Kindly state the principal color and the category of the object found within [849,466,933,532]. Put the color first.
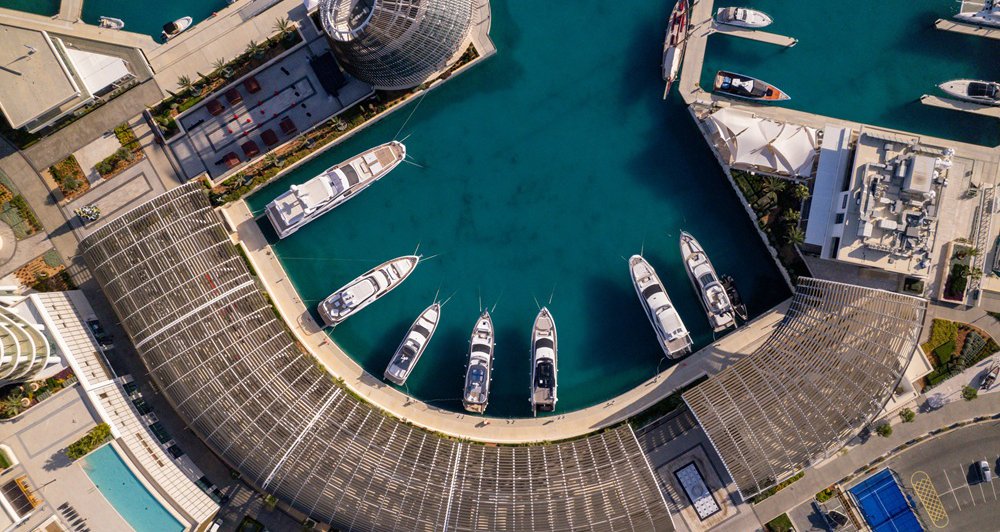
blue sports court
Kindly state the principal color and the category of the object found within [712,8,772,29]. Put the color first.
white boat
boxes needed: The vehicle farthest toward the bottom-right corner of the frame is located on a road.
[978,460,992,481]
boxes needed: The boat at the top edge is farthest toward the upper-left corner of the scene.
[98,17,125,29]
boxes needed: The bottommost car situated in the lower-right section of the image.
[827,511,849,526]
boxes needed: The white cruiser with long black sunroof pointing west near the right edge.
[935,80,1000,106]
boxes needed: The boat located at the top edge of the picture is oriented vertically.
[662,0,694,99]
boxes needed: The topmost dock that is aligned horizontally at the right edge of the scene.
[932,19,1000,41]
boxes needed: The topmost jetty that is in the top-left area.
[59,0,88,22]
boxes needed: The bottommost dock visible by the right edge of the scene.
[917,95,1000,119]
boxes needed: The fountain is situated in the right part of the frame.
[675,462,721,519]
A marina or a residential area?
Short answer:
marina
